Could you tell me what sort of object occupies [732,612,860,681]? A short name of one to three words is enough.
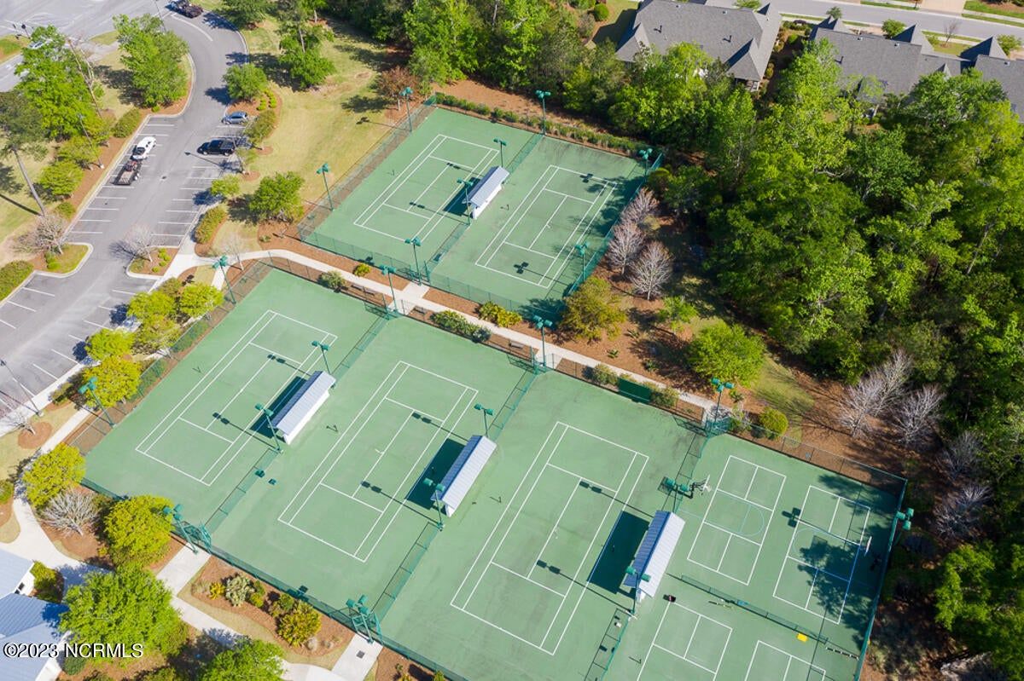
sports court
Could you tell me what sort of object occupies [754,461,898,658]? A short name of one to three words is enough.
sports court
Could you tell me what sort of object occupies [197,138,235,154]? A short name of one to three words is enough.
vehicle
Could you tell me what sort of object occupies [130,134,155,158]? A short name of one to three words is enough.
truck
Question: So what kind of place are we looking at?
sports ground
